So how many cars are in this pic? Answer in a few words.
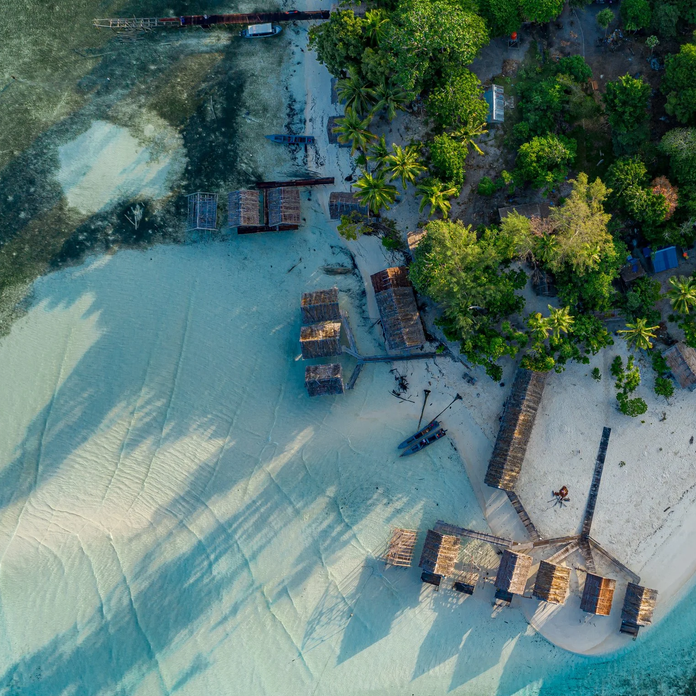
none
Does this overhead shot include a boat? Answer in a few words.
Yes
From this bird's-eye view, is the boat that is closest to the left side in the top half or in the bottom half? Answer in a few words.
top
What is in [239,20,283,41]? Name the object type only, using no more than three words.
boat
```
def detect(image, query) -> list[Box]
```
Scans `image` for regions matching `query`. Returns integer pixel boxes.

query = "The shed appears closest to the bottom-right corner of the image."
[618,579,659,639]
